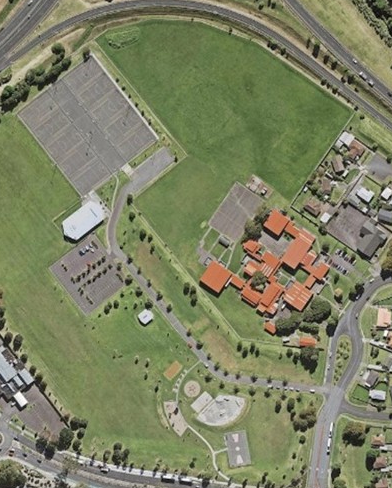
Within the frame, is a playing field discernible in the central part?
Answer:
Yes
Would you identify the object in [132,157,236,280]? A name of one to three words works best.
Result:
sports field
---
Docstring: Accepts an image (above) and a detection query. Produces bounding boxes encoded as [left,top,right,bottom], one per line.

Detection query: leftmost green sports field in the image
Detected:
[0,118,165,463]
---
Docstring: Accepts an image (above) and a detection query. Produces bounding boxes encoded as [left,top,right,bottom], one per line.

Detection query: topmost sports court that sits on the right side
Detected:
[209,182,265,242]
